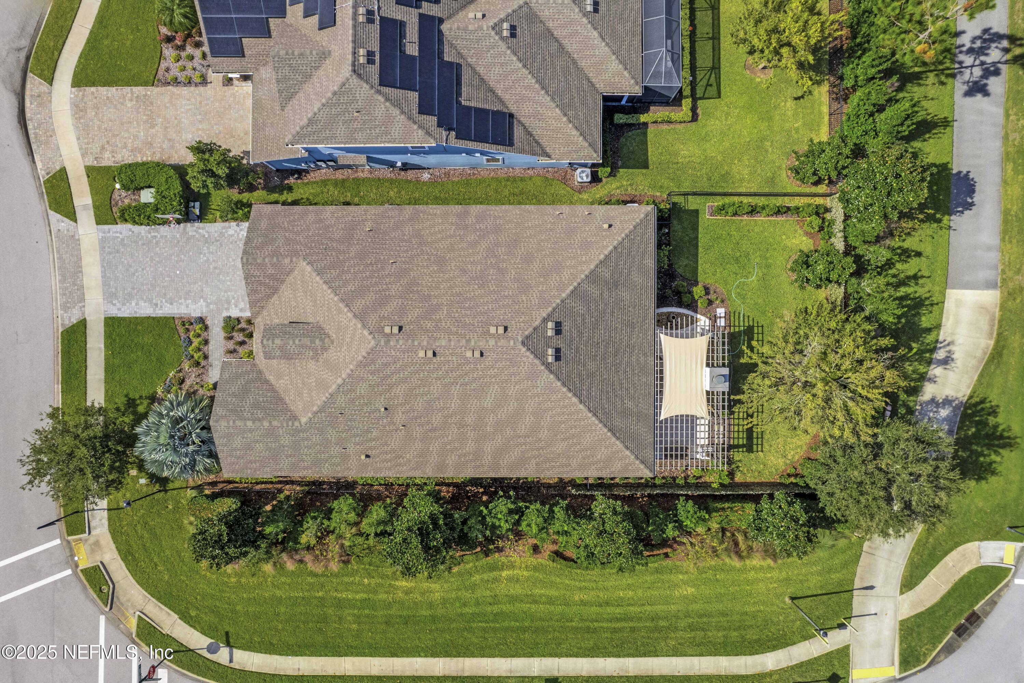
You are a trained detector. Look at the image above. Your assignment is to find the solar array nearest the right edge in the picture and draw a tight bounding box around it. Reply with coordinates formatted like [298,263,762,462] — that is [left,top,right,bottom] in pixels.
[380,0,509,145]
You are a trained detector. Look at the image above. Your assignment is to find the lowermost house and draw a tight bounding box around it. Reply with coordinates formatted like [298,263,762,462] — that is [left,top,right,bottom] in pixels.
[209,205,658,478]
